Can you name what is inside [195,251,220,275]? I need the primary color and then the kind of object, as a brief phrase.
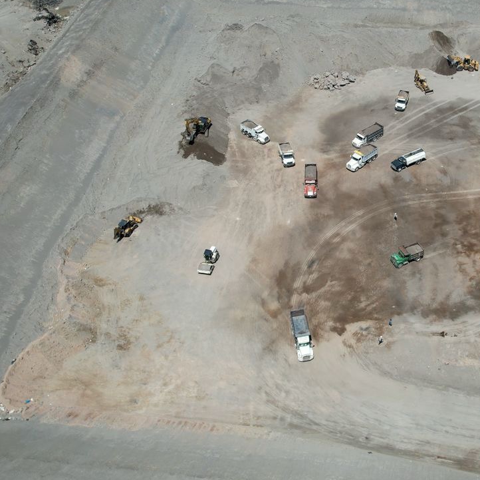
white work vehicle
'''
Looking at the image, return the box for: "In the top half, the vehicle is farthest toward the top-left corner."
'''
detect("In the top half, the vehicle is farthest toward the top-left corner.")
[179,118,214,140]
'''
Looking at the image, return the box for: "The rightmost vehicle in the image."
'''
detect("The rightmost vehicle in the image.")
[451,55,480,71]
